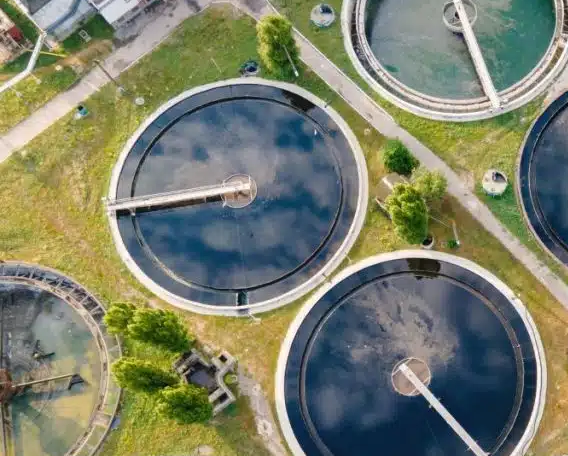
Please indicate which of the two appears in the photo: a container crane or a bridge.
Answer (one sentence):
There is a bridge in the scene.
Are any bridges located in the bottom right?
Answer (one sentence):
Yes, there is a bridge in the bottom right.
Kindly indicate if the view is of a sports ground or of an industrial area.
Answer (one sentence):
This image shows an industrial area.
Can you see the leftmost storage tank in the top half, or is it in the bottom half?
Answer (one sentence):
You can find the leftmost storage tank in the bottom half.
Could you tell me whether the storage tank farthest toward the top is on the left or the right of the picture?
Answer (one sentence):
You can find the storage tank farthest toward the top on the right side of the picture.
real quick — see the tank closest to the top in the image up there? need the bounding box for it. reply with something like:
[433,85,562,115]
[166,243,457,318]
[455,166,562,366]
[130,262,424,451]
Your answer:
[344,0,568,121]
